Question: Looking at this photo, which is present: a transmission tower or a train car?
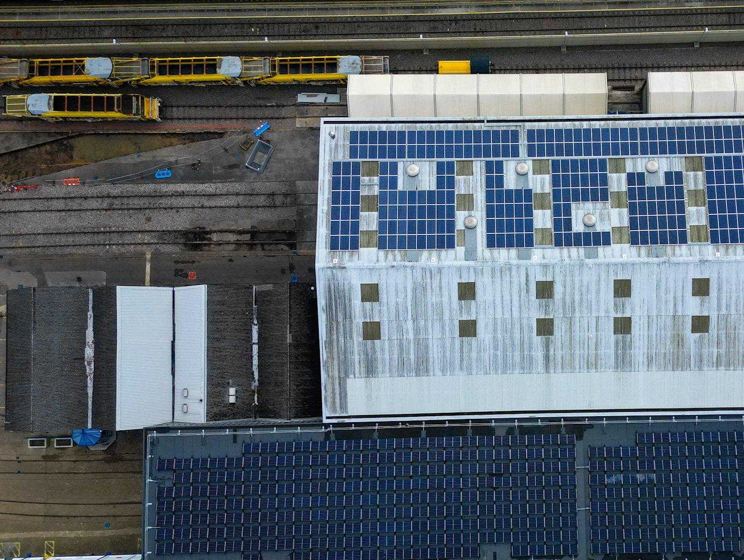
train car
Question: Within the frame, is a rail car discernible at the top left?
Yes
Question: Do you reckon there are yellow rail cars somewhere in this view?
Yes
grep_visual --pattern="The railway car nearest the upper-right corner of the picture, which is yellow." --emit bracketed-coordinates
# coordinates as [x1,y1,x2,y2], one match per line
[436,56,495,73]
